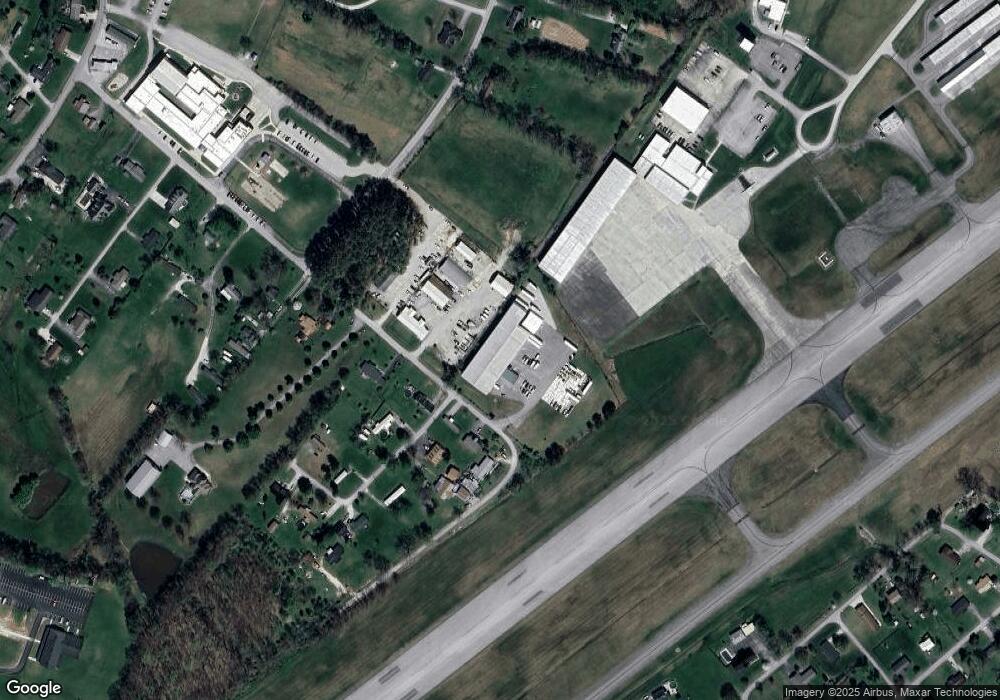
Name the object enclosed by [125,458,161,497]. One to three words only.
barn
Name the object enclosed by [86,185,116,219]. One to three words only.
house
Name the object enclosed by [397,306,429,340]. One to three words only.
building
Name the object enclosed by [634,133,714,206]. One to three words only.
hangar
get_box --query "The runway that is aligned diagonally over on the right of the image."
[340,190,1000,700]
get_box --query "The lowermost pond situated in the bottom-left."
[131,541,182,595]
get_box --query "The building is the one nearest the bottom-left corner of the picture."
[36,624,79,670]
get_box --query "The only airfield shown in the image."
[340,0,1000,700]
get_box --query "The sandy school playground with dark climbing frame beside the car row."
[241,159,289,212]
